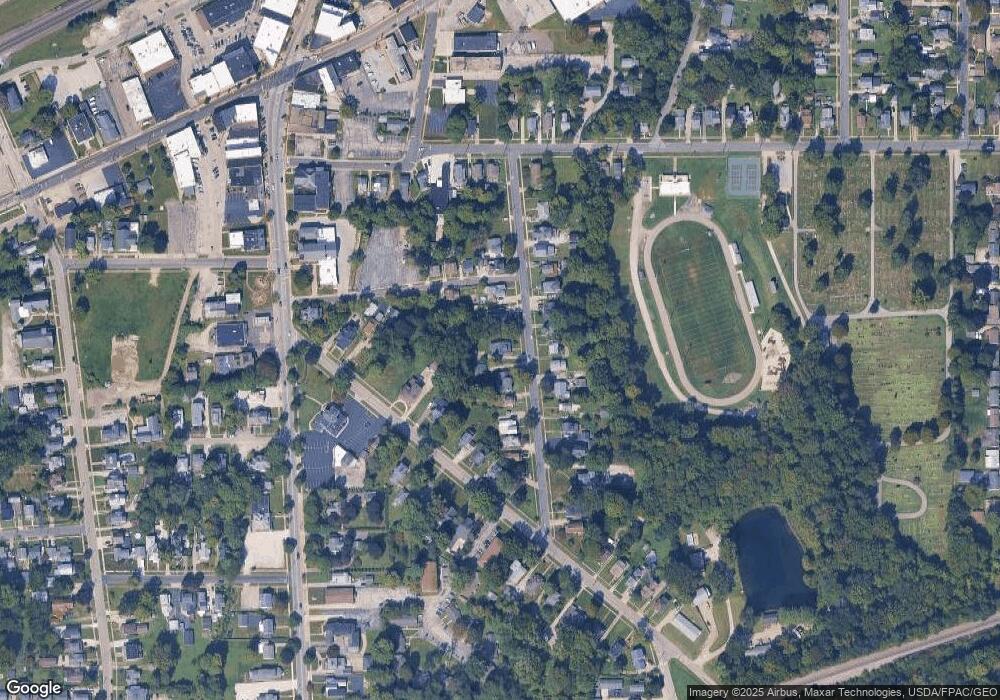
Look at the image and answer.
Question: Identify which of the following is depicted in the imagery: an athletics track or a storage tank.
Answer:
athletics track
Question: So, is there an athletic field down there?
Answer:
Yes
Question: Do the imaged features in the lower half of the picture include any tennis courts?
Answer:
No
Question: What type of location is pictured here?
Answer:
residential area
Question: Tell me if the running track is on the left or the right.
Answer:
right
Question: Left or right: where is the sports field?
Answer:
right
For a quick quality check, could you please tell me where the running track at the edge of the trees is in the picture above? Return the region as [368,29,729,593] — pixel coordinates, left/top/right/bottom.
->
[645,215,761,405]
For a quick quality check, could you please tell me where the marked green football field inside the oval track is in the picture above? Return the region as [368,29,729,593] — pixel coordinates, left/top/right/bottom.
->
[662,241,751,374]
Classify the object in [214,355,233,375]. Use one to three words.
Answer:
house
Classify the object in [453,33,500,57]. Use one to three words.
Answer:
building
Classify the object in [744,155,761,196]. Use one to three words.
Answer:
tennis court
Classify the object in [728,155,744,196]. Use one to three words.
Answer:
tennis court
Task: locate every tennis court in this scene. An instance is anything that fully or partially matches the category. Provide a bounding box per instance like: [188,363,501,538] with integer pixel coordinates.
[744,155,761,196]
[728,155,744,196]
